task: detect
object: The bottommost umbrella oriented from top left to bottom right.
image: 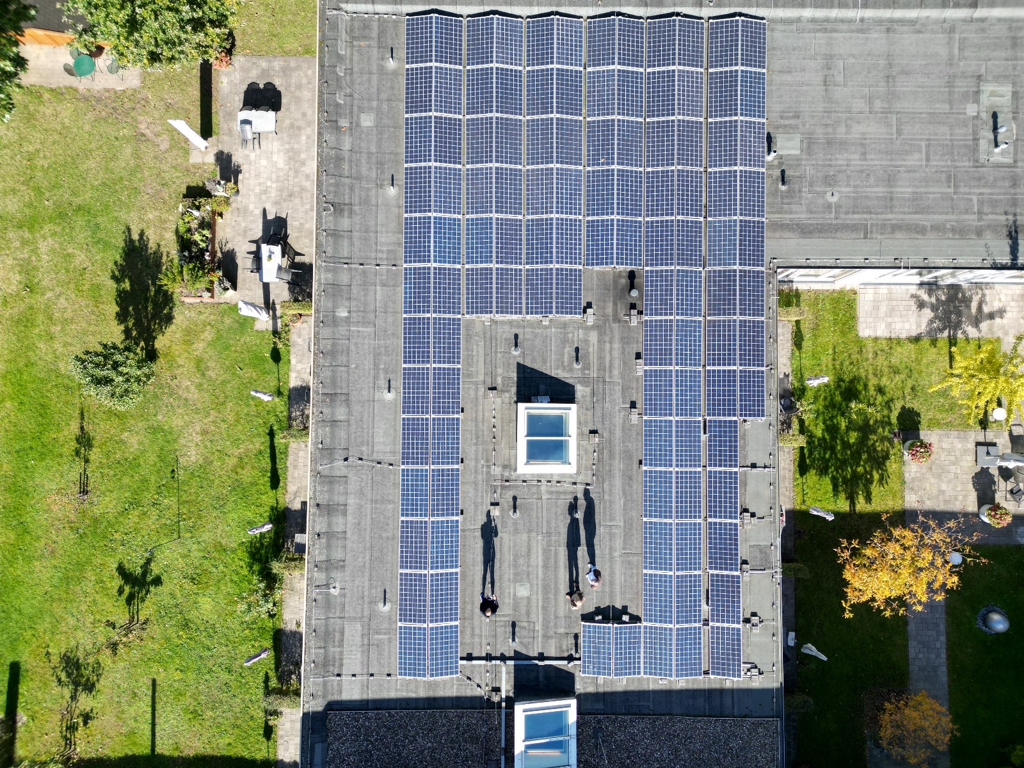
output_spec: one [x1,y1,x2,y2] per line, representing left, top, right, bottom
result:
[789,633,829,660]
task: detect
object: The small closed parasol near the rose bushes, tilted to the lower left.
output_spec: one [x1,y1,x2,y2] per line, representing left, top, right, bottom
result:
[244,643,277,665]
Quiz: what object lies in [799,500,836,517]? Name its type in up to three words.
umbrella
